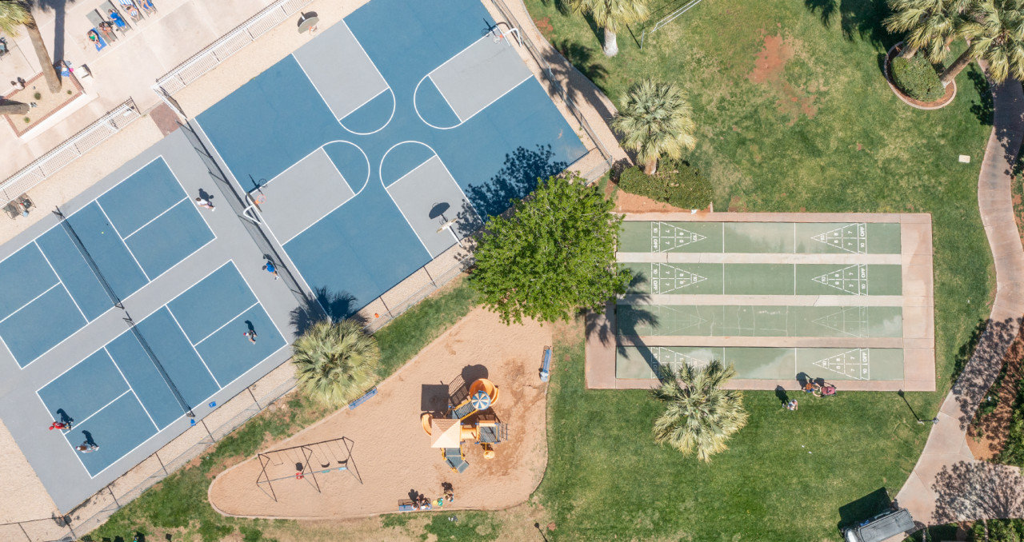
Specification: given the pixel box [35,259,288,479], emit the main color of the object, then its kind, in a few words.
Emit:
blue sports court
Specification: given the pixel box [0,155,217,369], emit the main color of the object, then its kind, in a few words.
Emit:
blue sports court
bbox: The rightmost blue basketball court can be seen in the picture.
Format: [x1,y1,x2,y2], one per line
[193,0,590,322]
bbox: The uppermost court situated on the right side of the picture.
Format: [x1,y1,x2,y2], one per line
[616,220,901,253]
